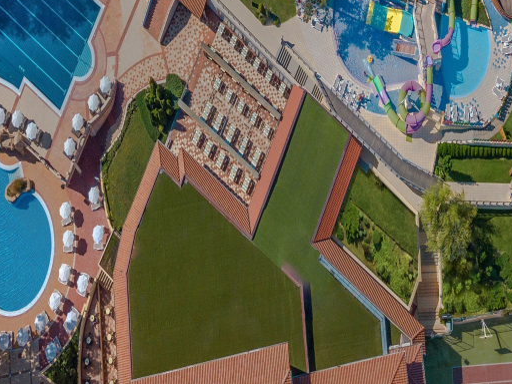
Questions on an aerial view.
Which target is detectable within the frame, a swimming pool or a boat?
swimming pool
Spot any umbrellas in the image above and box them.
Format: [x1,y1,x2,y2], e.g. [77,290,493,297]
[27,123,41,140]
[0,107,10,125]
[35,314,50,330]
[94,225,106,241]
[13,110,27,128]
[64,231,75,247]
[100,77,113,95]
[0,331,14,349]
[60,266,71,282]
[65,312,79,328]
[90,188,103,204]
[72,114,86,132]
[65,139,78,155]
[46,340,61,357]
[18,327,32,344]
[62,202,73,218]
[78,275,91,291]
[51,293,64,310]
